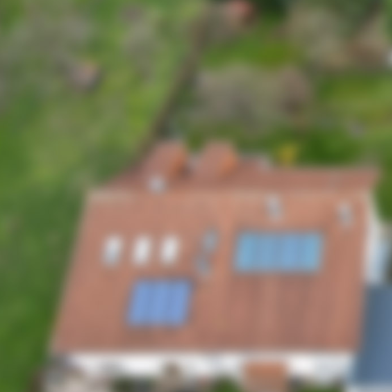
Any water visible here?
No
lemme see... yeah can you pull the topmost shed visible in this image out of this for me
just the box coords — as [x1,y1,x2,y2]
[223,0,258,30]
